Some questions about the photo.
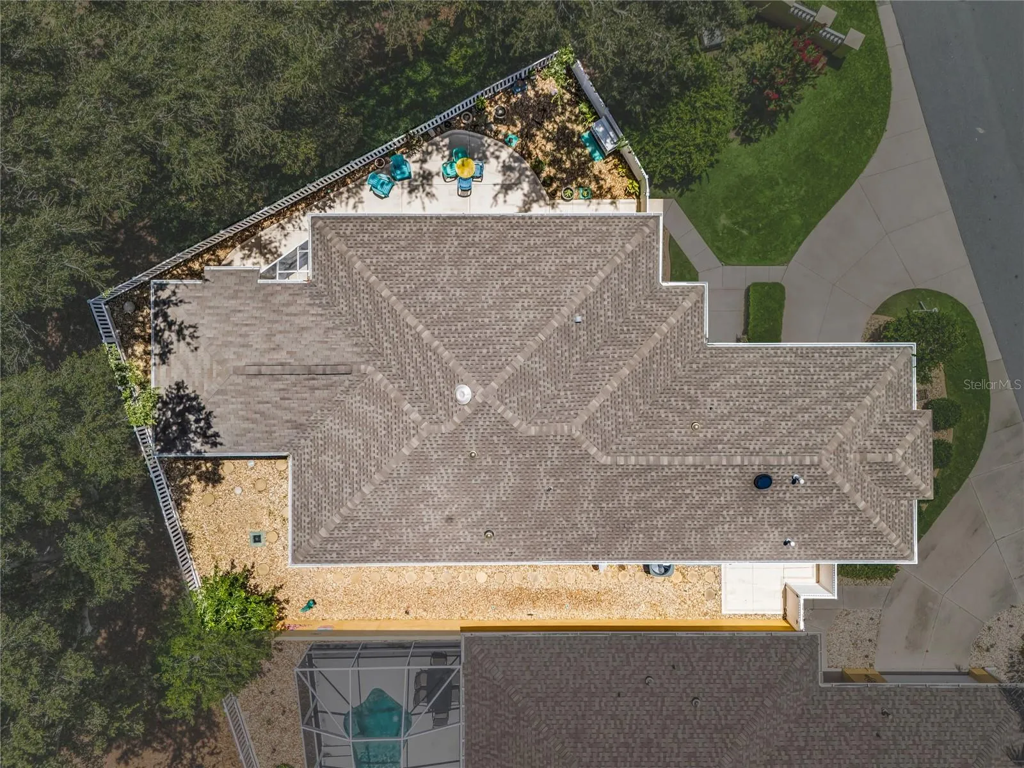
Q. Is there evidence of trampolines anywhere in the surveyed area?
No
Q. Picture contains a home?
Yes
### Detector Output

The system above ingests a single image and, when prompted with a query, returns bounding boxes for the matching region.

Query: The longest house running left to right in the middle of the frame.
[148,212,936,568]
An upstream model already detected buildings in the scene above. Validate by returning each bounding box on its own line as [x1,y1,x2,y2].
[458,620,1024,768]
[148,212,936,568]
